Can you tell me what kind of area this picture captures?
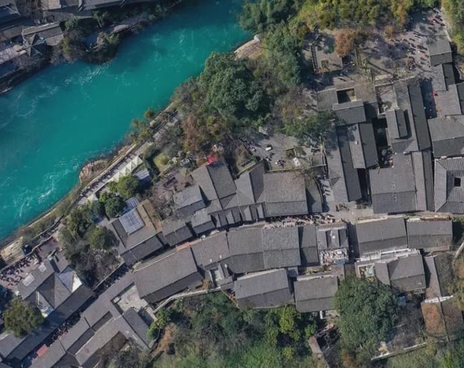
residential area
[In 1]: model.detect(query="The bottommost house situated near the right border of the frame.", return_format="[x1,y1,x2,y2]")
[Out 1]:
[421,296,464,339]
